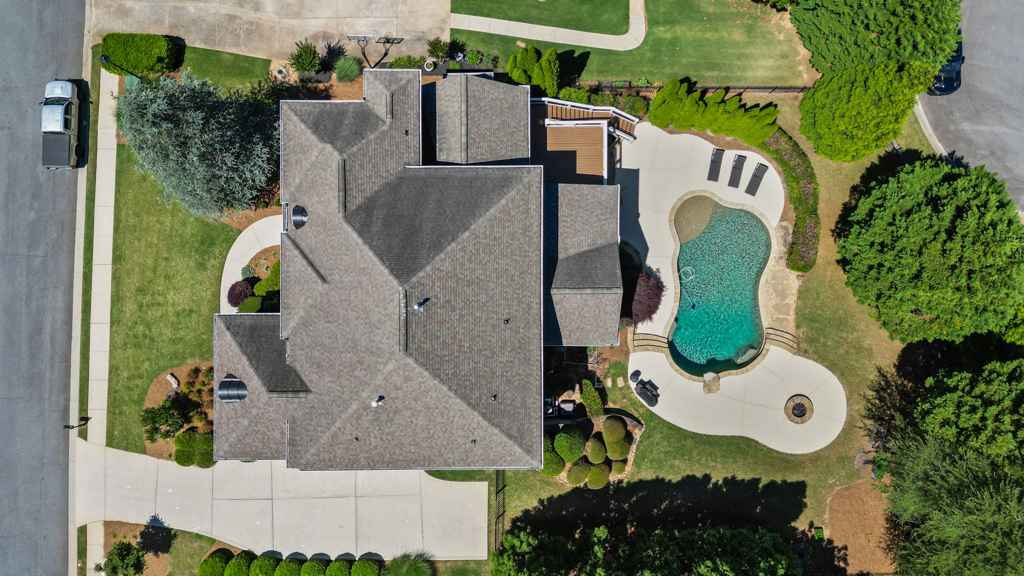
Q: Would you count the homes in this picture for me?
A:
one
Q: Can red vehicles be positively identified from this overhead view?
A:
No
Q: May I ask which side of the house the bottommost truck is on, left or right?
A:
on the left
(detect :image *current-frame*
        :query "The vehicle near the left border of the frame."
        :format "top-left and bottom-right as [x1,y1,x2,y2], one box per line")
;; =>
[37,77,85,170]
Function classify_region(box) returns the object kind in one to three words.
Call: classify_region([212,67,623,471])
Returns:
house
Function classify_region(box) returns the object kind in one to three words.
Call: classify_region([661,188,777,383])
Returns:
swimming pool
